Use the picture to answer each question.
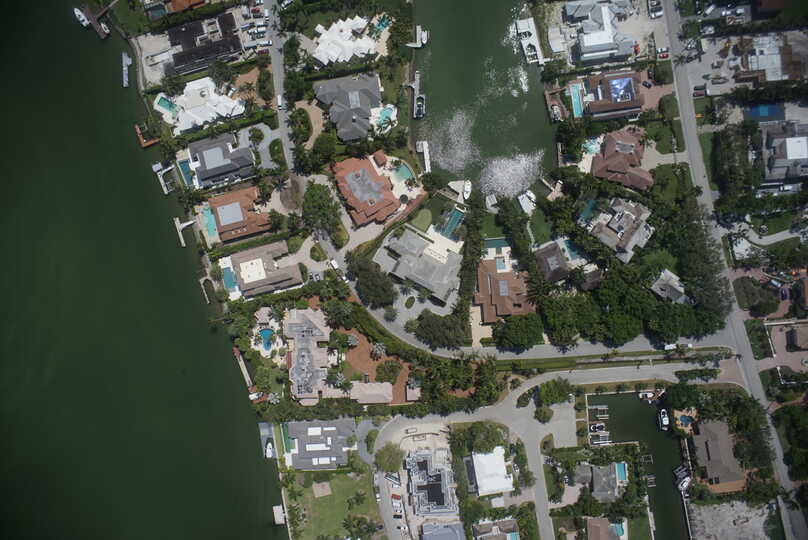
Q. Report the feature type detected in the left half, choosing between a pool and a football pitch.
pool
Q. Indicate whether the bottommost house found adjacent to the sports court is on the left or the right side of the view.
right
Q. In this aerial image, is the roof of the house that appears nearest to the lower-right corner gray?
Yes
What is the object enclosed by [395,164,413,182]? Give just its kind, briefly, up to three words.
swimming pool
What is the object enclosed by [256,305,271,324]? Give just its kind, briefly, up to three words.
gazebo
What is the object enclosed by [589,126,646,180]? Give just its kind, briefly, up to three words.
house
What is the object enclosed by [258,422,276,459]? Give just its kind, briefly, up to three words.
pier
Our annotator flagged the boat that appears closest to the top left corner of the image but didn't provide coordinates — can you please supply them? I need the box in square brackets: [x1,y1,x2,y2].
[74,9,89,28]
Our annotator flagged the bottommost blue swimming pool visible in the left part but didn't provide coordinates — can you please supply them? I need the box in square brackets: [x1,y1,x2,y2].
[260,328,275,352]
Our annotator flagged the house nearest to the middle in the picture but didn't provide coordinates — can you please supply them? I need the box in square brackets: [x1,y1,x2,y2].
[381,227,473,313]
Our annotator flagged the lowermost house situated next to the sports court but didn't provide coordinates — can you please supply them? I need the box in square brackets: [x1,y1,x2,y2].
[759,124,808,186]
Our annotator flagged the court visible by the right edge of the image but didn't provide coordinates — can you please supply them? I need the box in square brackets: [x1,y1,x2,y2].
[744,104,785,121]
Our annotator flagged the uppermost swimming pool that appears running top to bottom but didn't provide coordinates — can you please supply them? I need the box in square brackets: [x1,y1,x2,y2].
[570,83,583,118]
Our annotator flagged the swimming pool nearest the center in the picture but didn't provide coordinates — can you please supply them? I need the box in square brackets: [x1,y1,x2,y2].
[440,208,465,238]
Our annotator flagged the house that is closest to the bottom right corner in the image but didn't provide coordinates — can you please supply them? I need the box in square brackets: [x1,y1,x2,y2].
[691,418,743,487]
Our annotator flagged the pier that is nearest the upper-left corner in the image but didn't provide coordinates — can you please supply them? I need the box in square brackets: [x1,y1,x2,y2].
[82,0,118,38]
